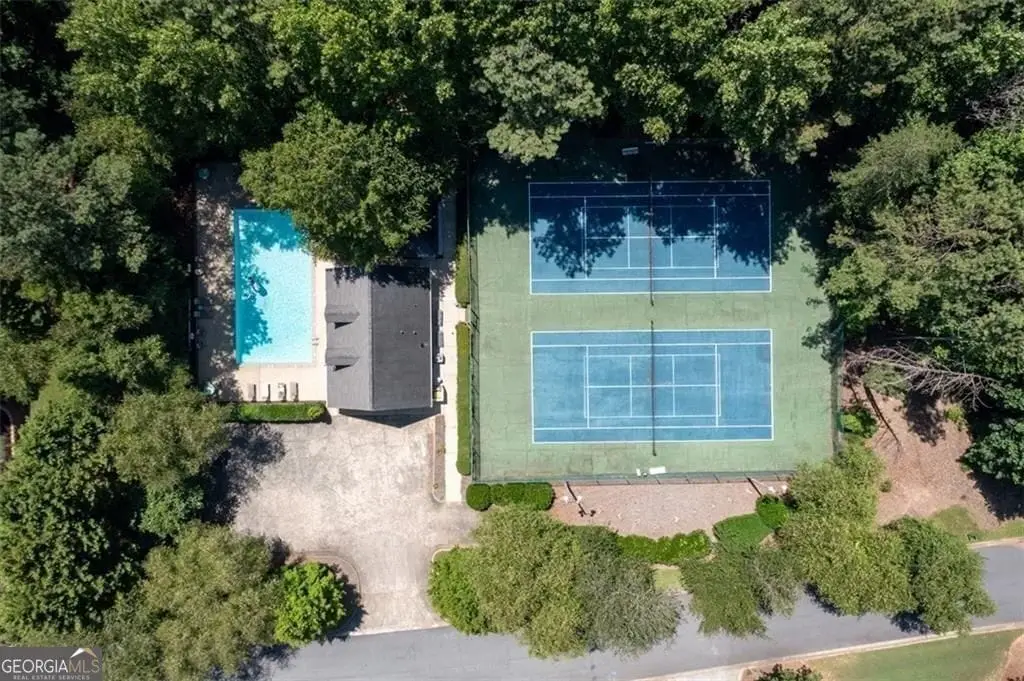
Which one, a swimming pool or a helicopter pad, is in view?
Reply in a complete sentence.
There is a swimming pool in the scene.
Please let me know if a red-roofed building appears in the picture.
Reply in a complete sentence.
No, the photo shows no red-roofed building.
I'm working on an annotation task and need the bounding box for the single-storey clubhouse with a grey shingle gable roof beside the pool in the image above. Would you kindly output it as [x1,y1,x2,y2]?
[324,264,433,410]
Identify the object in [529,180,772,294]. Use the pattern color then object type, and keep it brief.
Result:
blue tennis court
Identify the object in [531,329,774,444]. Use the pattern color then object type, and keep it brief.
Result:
blue tennis court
